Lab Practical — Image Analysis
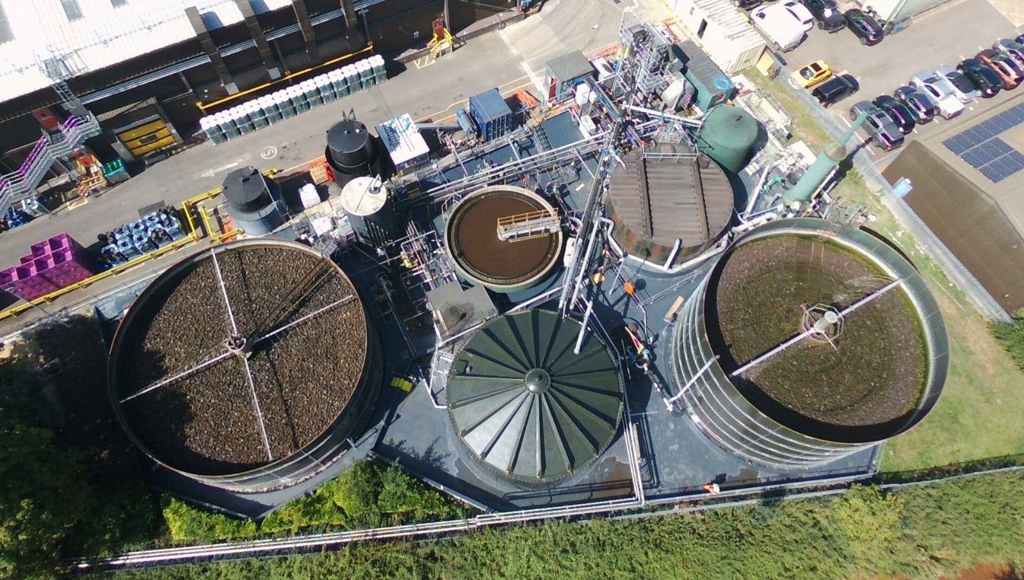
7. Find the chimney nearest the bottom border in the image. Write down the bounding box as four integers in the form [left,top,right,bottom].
[783,104,869,210]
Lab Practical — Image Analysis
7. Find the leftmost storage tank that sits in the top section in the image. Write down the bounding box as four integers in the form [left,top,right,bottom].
[222,168,286,232]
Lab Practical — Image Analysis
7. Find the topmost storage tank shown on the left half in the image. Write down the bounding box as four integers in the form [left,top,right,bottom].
[323,113,386,187]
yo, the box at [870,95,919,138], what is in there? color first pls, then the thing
black car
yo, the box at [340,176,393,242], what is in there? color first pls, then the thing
white storage tank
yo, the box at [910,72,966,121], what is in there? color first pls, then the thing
white car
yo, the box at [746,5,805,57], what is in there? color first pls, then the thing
white van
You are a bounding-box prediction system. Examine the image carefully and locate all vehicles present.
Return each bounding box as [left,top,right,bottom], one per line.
[857,106,906,153]
[808,73,860,109]
[803,0,852,37]
[781,3,822,44]
[893,87,939,127]
[957,58,1007,100]
[980,50,1024,90]
[935,69,983,110]
[789,58,835,92]
[870,95,919,138]
[844,10,888,50]
[746,5,805,57]
[910,72,966,121]
[731,0,765,16]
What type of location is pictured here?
industrial area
